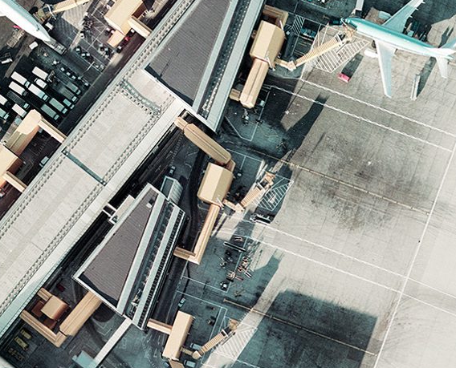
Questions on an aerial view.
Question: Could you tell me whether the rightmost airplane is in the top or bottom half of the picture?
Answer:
top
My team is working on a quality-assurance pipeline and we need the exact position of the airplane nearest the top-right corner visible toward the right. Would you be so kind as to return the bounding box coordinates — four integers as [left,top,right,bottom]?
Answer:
[342,0,455,95]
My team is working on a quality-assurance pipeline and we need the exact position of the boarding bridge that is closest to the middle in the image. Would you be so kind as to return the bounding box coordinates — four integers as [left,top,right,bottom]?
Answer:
[223,168,275,212]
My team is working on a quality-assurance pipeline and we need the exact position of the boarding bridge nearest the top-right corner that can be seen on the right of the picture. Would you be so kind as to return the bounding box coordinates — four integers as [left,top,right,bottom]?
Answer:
[280,27,351,73]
